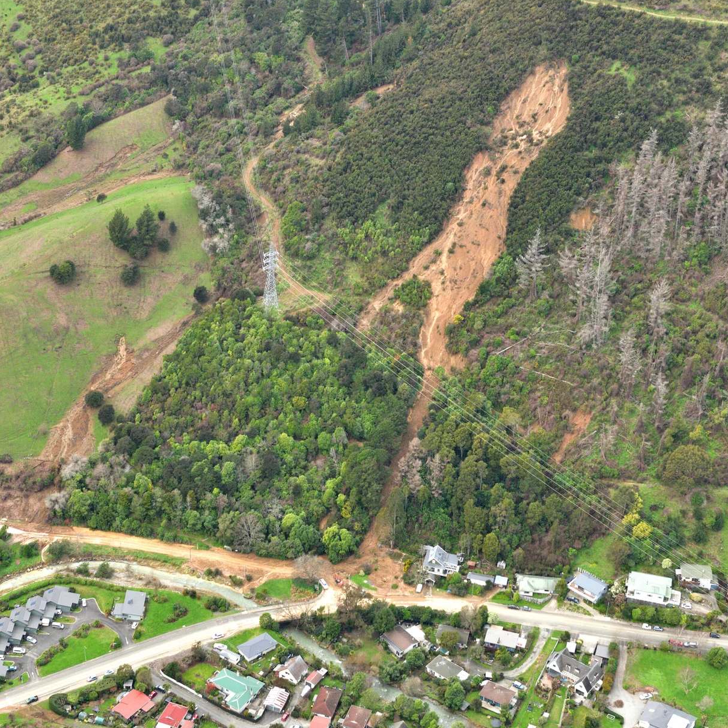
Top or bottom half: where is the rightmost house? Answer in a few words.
bottom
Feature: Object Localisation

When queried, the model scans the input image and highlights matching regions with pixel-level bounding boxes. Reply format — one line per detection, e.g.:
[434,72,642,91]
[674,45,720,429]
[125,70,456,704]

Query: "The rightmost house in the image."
[680,563,718,593]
